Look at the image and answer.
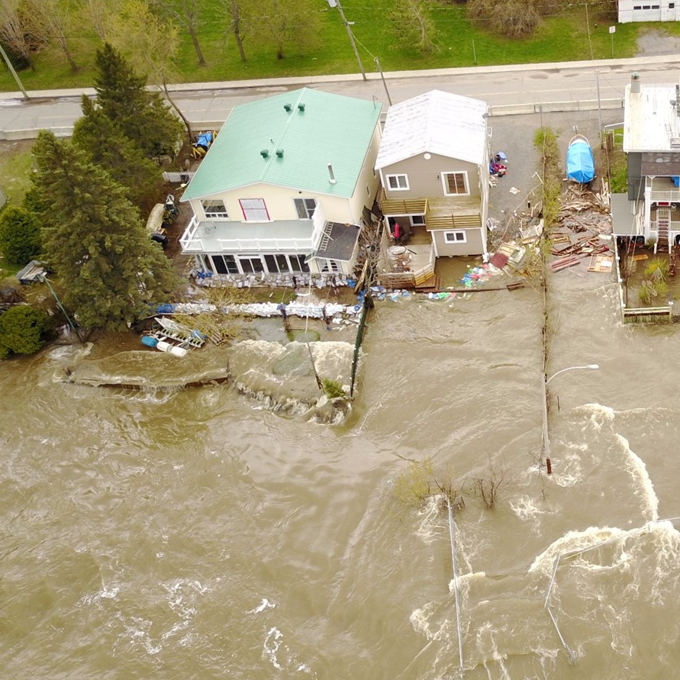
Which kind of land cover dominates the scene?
water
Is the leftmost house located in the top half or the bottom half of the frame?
top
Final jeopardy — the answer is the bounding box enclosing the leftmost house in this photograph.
[174,88,388,280]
